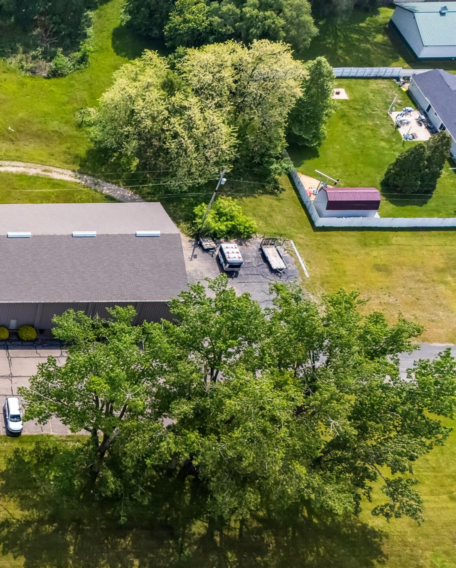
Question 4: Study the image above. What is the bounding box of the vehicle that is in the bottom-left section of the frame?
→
[1,396,24,434]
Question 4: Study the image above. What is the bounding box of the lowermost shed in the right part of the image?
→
[312,185,379,217]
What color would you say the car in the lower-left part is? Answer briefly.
white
